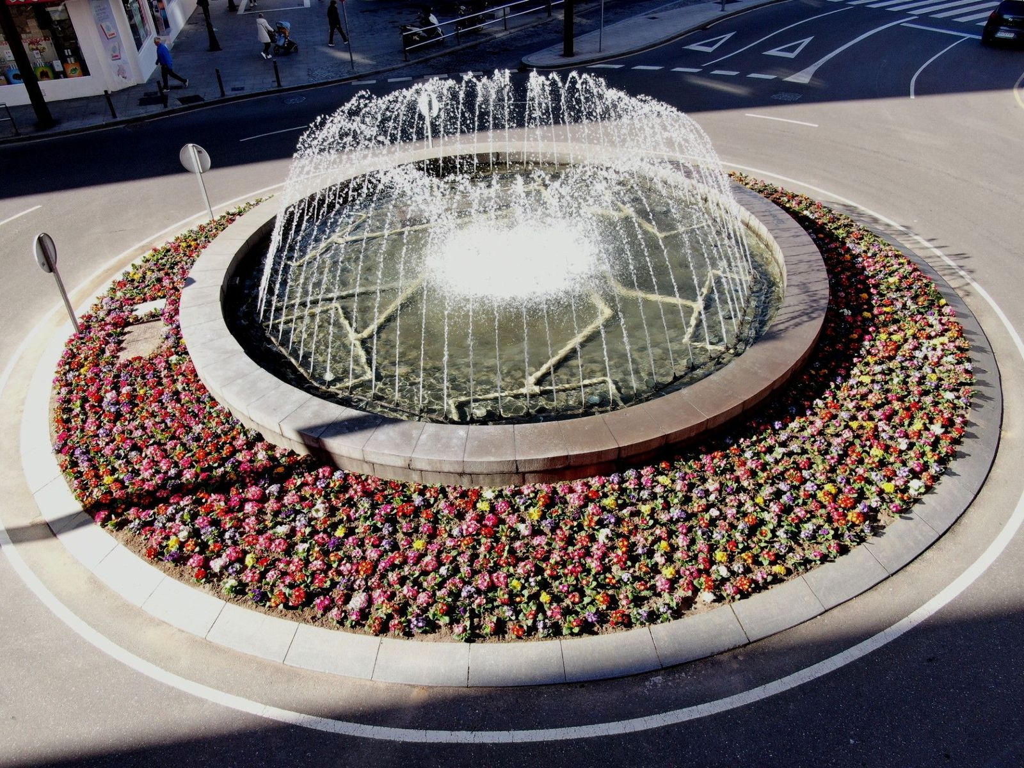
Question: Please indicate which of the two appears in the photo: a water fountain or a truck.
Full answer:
There is a water fountain in the scene.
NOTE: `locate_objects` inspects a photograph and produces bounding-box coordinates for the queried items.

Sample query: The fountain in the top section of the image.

[174,64,837,488]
